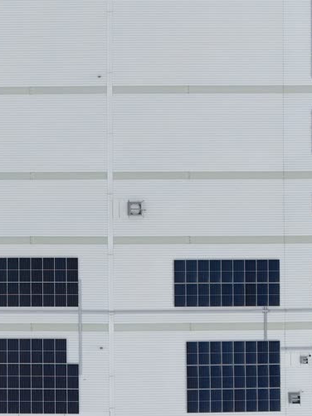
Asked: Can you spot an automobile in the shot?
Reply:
No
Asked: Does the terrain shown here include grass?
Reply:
No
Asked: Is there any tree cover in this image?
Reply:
No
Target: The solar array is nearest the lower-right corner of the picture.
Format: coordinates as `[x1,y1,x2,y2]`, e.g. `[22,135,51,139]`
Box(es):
[186,340,281,414]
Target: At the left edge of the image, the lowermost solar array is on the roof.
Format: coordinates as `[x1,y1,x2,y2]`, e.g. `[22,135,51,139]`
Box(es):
[0,339,79,414]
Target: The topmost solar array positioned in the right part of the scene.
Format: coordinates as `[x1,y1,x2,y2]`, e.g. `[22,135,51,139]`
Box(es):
[174,258,281,307]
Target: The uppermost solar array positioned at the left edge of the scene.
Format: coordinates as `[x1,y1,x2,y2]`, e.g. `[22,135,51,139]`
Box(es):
[0,257,78,306]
